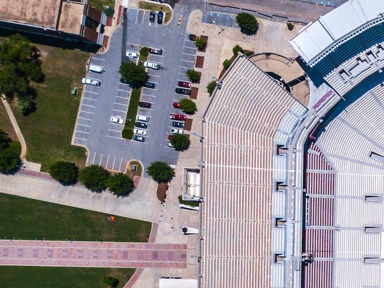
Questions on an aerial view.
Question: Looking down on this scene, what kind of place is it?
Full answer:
This image shows a sports ground.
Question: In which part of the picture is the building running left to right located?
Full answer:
The building running left to right sits in the top left section of the image.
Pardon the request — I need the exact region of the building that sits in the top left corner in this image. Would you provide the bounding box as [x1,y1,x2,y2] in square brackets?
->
[0,0,114,48]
